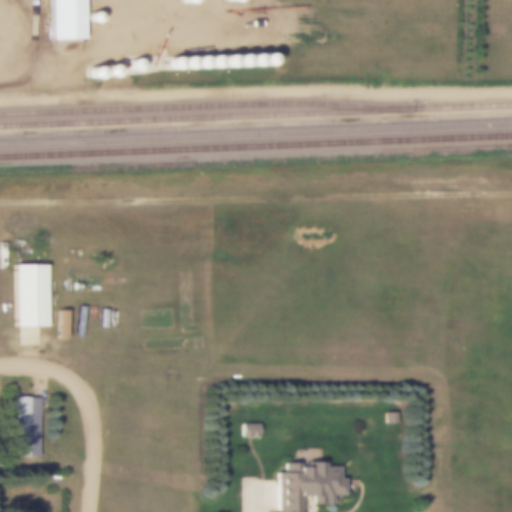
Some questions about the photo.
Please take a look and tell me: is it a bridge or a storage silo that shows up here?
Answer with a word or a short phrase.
storage silo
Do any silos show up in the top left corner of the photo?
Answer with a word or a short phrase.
Yes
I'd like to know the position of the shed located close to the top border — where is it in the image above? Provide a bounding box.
[51,0,90,40]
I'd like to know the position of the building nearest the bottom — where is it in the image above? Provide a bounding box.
[278,462,350,512]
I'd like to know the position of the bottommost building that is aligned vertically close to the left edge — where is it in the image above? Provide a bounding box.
[20,396,44,460]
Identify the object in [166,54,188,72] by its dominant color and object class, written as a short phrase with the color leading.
white silo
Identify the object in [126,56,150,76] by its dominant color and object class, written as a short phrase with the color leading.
white silo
